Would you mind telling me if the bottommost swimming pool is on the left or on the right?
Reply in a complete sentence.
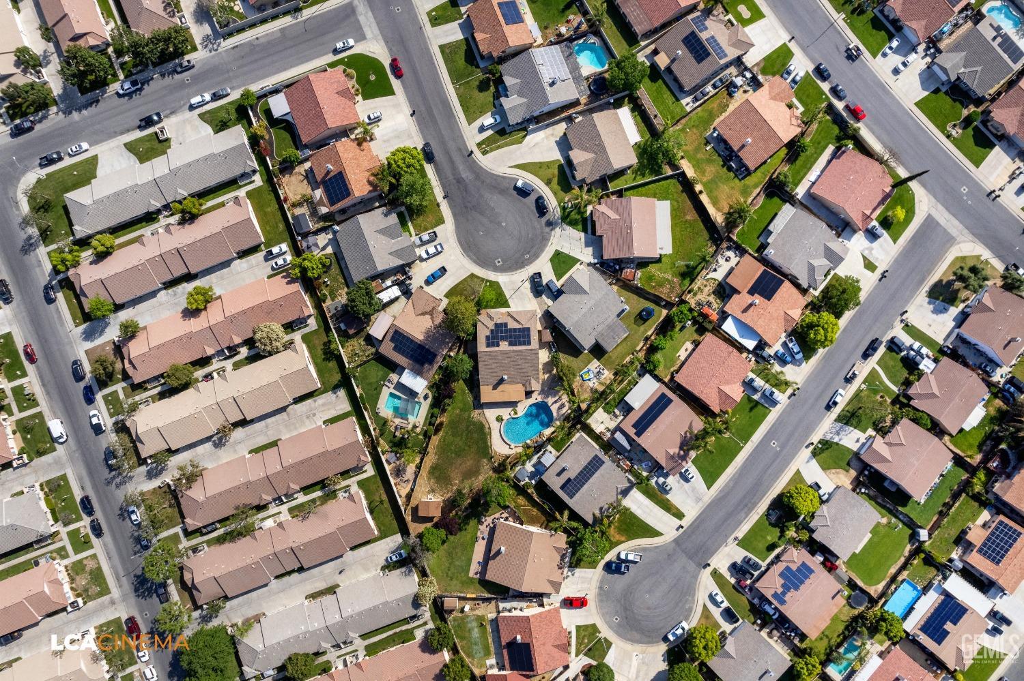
The bottommost swimming pool is on the right side of the image.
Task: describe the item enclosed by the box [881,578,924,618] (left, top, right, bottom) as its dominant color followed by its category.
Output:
blue swimming pool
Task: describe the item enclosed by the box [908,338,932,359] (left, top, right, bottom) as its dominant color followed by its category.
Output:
white truck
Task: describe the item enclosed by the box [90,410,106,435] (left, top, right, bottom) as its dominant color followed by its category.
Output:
white vehicle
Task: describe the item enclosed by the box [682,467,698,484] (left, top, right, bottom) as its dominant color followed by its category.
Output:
white car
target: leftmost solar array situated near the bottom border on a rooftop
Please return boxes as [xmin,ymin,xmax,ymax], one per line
[507,644,533,671]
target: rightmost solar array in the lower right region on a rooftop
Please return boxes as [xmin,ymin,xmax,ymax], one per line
[977,521,1021,564]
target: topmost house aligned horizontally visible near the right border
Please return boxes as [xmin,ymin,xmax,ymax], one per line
[880,0,977,44]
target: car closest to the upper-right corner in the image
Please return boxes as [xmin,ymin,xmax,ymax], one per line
[936,19,955,39]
